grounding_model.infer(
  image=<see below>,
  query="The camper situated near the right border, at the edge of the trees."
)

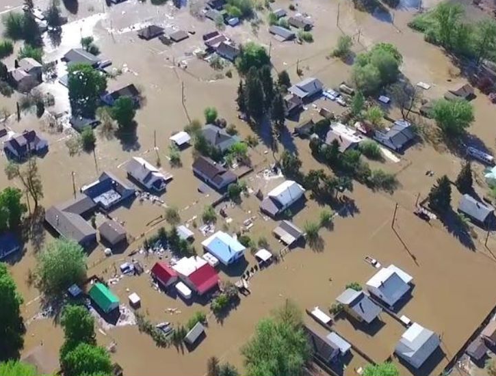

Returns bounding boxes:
[466,147,493,166]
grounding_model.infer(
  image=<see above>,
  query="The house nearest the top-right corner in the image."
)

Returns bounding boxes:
[438,85,480,104]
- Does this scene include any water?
Yes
